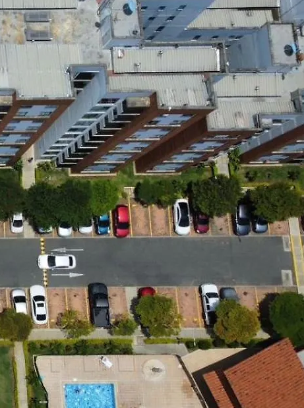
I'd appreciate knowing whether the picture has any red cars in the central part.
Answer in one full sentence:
Yes, a red car can be seen in the central part.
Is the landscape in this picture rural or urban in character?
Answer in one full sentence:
From above, the setting appears urban.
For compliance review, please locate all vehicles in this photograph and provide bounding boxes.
[198,283,221,326]
[231,200,252,237]
[29,285,47,325]
[88,283,109,328]
[37,224,54,243]
[136,286,154,305]
[75,219,92,239]
[10,287,28,312]
[171,199,192,236]
[94,209,112,239]
[249,209,270,239]
[217,287,237,304]
[36,253,77,271]
[9,208,26,238]
[112,203,132,239]
[57,224,74,242]
[191,208,210,234]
